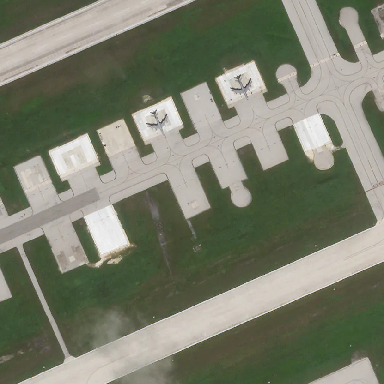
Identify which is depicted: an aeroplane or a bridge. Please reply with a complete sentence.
It is an aeroplane that can be seen here.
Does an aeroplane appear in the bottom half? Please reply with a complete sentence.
No, no aeroplane is visible in the bottom half.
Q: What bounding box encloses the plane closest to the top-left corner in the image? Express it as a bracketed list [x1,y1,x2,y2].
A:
[148,112,169,135]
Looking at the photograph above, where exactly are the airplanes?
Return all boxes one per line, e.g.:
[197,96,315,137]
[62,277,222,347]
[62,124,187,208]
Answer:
[148,112,169,135]
[232,77,253,100]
